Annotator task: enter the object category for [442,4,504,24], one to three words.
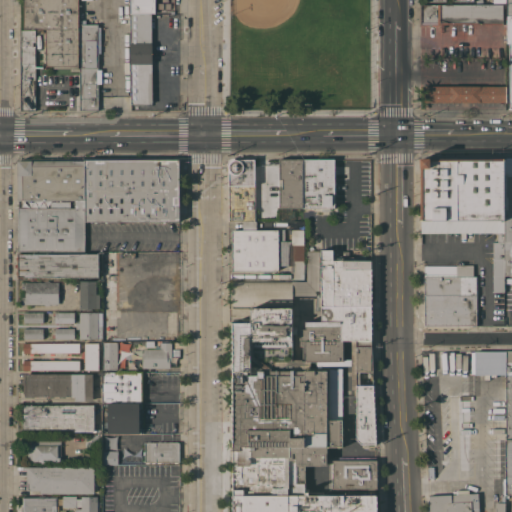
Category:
building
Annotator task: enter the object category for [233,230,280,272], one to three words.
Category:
building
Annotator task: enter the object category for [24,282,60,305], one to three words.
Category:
house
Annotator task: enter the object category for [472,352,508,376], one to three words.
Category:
shed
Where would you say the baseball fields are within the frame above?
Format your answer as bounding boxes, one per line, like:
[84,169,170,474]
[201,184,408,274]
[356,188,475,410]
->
[232,0,371,109]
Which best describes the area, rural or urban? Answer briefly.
urban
